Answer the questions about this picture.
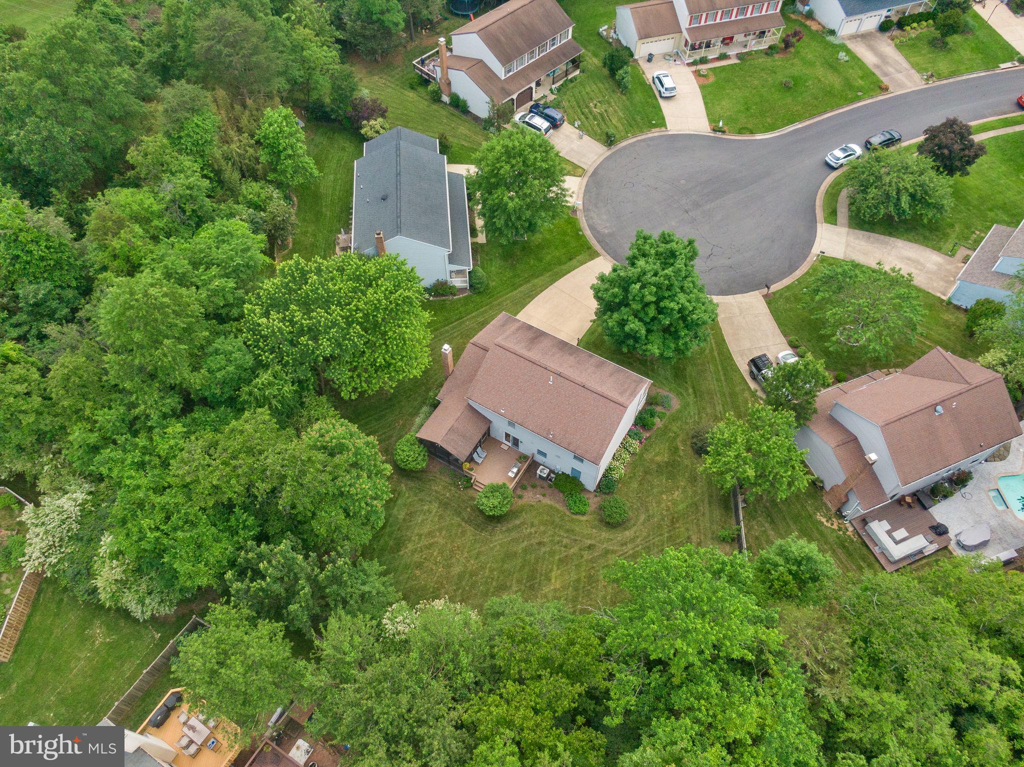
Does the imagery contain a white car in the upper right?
Yes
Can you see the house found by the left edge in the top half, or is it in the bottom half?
bottom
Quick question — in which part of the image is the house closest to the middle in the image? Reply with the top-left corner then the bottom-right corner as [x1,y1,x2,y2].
[416,311,654,495]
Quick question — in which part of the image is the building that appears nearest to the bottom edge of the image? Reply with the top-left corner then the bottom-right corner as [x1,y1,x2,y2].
[42,714,172,767]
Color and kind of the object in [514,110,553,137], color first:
white car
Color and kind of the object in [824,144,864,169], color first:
white car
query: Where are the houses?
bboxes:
[784,340,1024,574]
[42,714,172,767]
[946,218,1024,335]
[345,124,473,293]
[420,0,585,119]
[416,311,654,495]
[617,0,787,60]
[804,0,934,35]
